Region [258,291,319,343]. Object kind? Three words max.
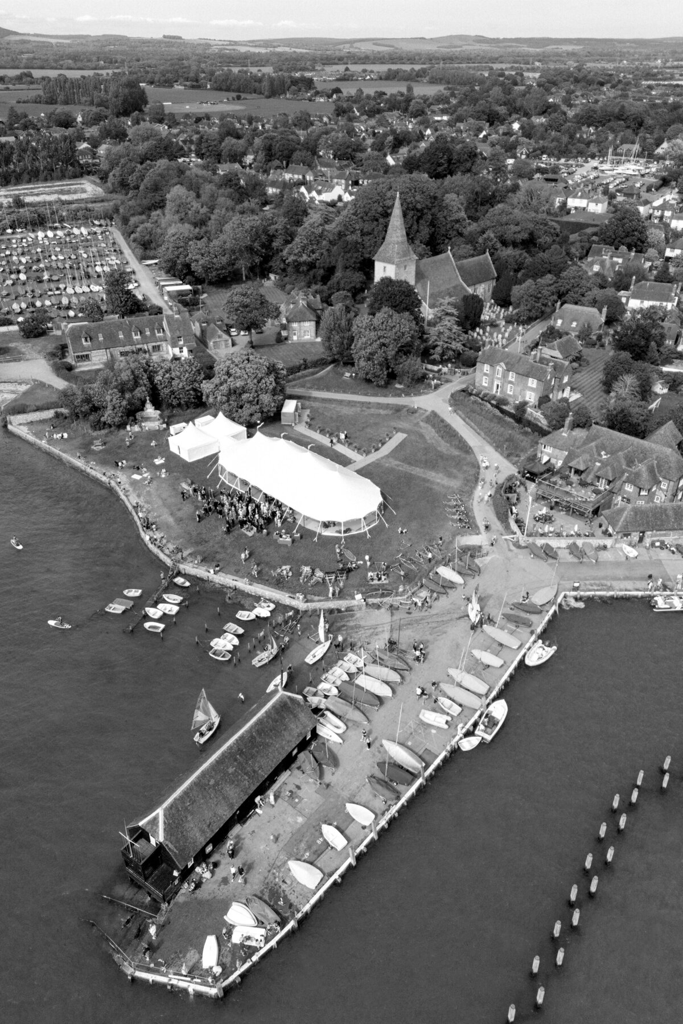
house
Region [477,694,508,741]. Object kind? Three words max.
boat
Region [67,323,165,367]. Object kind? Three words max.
barn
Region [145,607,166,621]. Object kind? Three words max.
boat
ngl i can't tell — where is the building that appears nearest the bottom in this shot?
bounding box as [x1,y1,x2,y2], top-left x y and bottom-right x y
[120,687,317,908]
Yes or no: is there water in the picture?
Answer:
Yes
